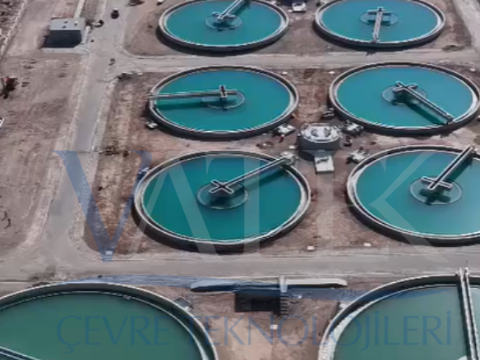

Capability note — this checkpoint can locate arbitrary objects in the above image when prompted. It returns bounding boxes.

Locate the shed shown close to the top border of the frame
[43,18,91,47]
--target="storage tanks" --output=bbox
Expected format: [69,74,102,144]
[328,61,480,136]
[134,150,310,252]
[317,274,480,360]
[346,146,480,247]
[0,283,216,360]
[159,0,288,52]
[148,65,298,140]
[315,0,445,50]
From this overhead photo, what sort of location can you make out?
industrial area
